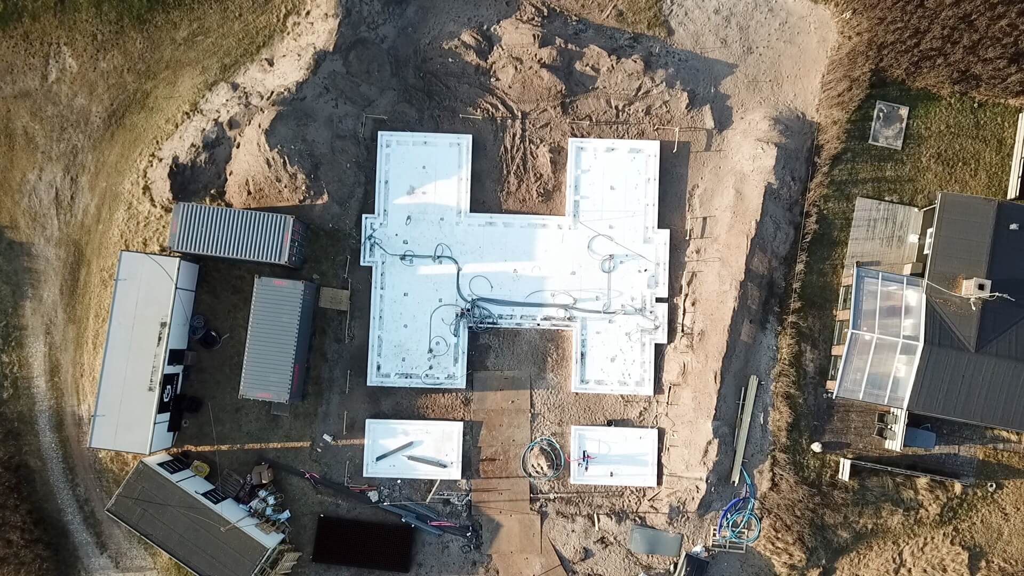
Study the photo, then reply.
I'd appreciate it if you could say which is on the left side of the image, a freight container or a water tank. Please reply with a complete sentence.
The feature located on the left side of the image is a freight container.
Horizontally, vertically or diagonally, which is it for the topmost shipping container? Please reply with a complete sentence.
The topmost shipping container has been laid out horizontally relative to the frame.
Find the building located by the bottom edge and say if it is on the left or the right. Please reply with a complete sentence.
You can find the building located by the bottom edge on the left side of the picture.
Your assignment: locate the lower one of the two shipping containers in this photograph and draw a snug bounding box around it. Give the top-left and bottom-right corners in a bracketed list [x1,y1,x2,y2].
[240,275,316,402]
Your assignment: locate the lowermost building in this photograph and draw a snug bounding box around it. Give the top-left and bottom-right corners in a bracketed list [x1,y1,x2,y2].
[106,451,282,576]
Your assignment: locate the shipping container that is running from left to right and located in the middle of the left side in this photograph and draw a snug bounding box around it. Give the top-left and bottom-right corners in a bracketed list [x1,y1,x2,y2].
[171,201,307,267]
